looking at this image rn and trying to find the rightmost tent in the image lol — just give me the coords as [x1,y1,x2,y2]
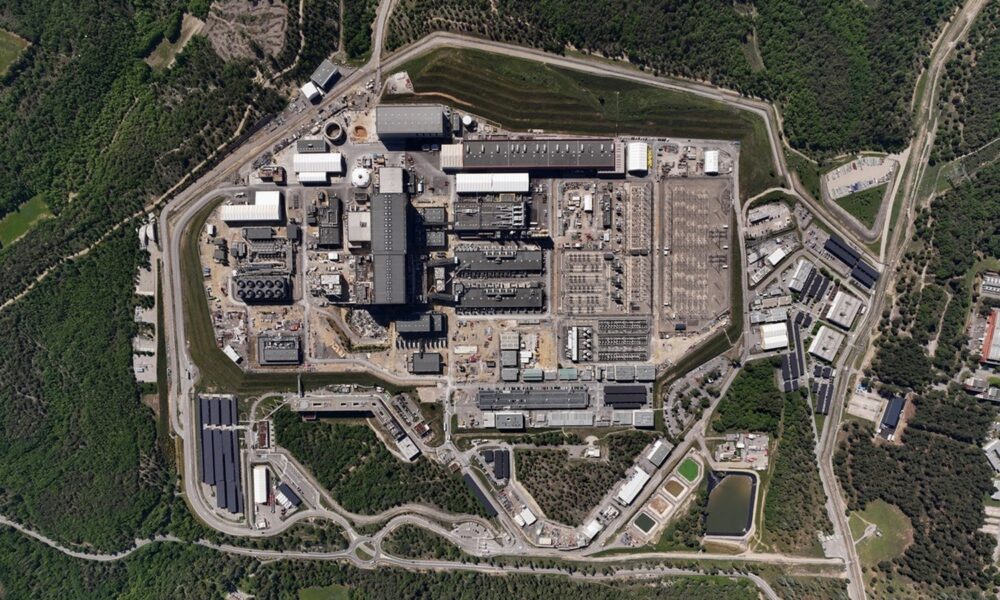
[704,150,719,173]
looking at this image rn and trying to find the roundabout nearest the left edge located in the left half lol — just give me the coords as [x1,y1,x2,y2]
[350,536,381,566]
